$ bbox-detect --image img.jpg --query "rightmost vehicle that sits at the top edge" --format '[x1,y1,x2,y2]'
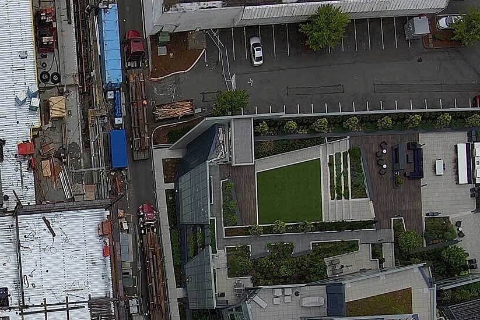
[434,14,466,31]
